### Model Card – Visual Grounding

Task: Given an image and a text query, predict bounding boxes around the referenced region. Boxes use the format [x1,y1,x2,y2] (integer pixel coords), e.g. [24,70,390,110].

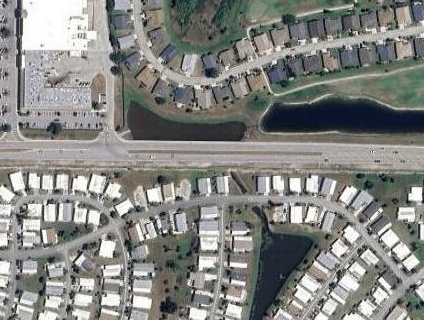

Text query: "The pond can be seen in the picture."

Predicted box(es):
[122,100,248,141]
